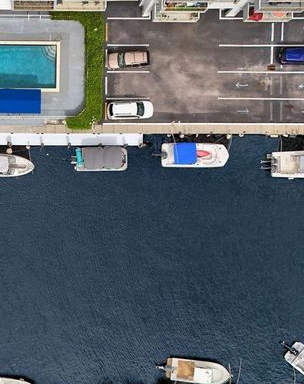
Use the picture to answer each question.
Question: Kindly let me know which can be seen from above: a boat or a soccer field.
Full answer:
Visible in the photo is a boat.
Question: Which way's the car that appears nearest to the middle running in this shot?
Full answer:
I'd say the car that appears nearest to the middle is aligned from side to side in the picture.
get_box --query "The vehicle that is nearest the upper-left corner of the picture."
[107,49,148,70]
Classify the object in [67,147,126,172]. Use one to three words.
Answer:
boat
